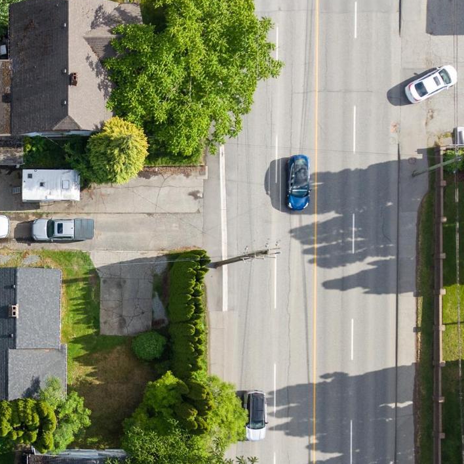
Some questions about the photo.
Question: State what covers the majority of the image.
paved ground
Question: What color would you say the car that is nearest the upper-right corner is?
white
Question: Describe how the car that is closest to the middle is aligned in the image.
up and down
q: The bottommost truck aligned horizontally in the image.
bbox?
[31,216,94,244]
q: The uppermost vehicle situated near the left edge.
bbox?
[22,170,89,204]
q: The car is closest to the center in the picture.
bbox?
[285,155,313,212]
